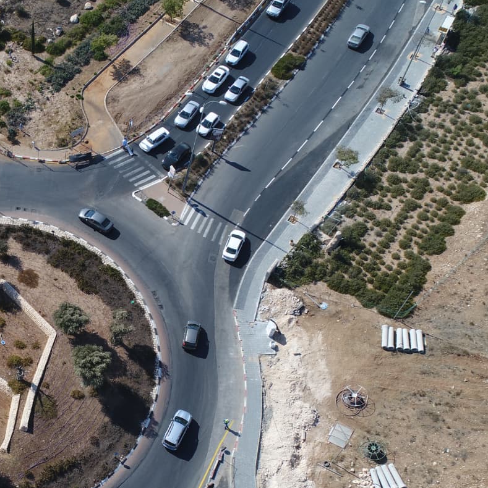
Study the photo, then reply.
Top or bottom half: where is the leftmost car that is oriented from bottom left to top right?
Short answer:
top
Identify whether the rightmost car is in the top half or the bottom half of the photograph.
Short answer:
top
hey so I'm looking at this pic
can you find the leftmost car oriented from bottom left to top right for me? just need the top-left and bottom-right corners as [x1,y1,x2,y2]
[137,125,173,153]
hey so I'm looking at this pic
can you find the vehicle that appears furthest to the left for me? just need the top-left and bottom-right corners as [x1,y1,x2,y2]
[77,207,116,234]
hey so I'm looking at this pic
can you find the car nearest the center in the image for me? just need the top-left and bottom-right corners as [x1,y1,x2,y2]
[220,230,245,265]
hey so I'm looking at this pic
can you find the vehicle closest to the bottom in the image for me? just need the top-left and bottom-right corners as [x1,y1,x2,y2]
[161,409,191,454]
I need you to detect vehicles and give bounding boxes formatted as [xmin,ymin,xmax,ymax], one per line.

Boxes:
[195,109,224,139]
[180,320,203,356]
[161,409,191,454]
[224,38,252,67]
[172,97,202,130]
[345,23,372,52]
[137,125,173,153]
[220,230,245,265]
[201,65,232,96]
[223,73,252,105]
[265,0,291,17]
[77,207,116,234]
[159,139,194,172]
